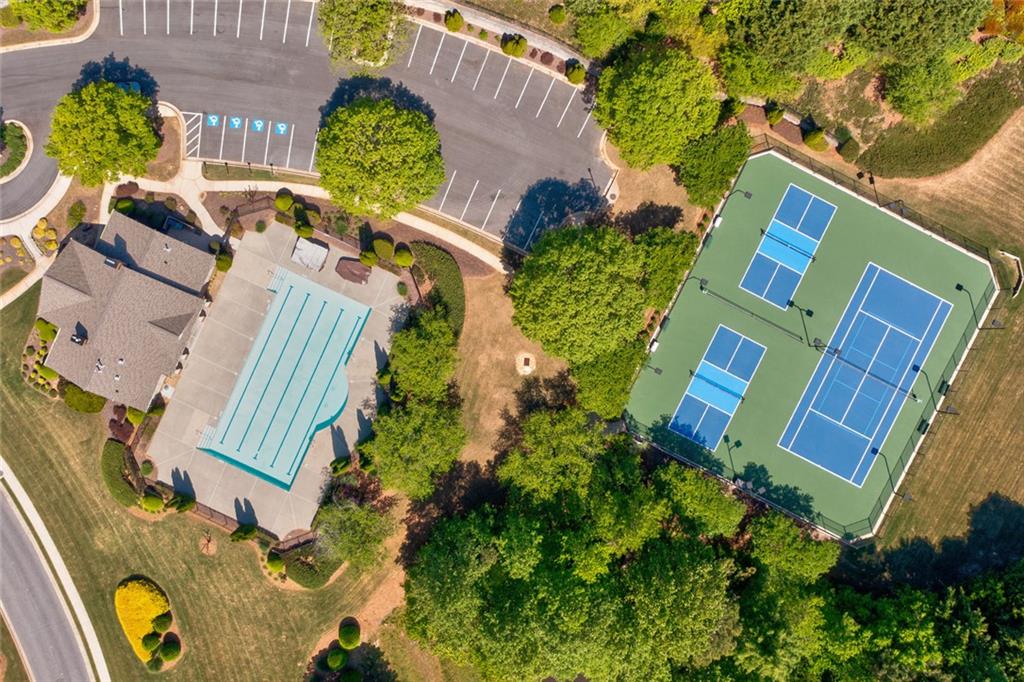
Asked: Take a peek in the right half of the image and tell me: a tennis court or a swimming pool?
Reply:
tennis court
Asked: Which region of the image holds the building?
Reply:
left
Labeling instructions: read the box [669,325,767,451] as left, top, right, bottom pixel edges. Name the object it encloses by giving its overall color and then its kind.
blue sports court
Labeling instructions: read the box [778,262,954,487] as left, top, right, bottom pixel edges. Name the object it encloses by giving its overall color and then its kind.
blue tennis court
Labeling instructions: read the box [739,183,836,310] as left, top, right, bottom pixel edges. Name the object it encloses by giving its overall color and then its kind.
blue sports court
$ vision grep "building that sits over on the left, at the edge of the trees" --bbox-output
[39,209,216,412]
